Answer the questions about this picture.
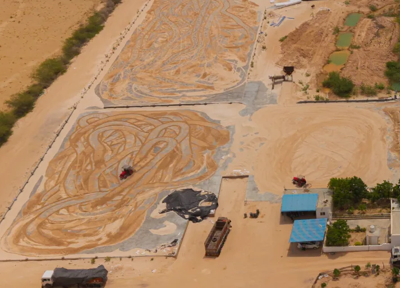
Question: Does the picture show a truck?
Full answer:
Yes, this view includes a truck.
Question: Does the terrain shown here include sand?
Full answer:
Yes, the picture does contain sand.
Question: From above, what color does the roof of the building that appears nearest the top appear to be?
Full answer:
The roof of the building that appears nearest the top is blue.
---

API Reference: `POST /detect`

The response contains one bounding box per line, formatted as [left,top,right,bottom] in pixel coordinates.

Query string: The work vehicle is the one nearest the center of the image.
[117,158,139,176]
